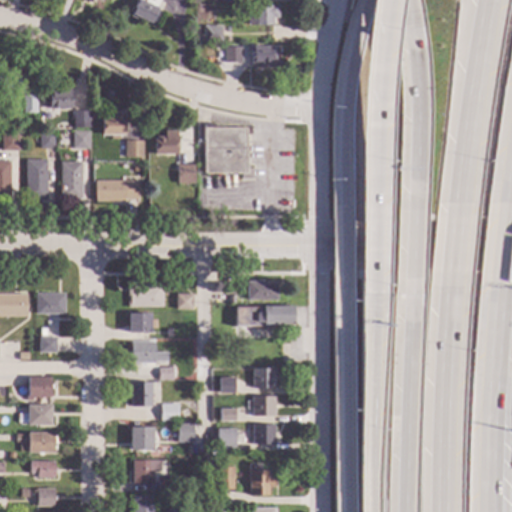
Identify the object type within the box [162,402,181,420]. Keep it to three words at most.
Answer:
building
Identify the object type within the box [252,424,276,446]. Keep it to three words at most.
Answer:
house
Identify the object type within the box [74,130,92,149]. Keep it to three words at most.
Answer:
building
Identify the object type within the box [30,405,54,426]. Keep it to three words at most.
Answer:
house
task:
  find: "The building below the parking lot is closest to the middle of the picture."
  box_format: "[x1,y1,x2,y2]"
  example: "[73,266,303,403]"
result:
[249,278,281,300]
